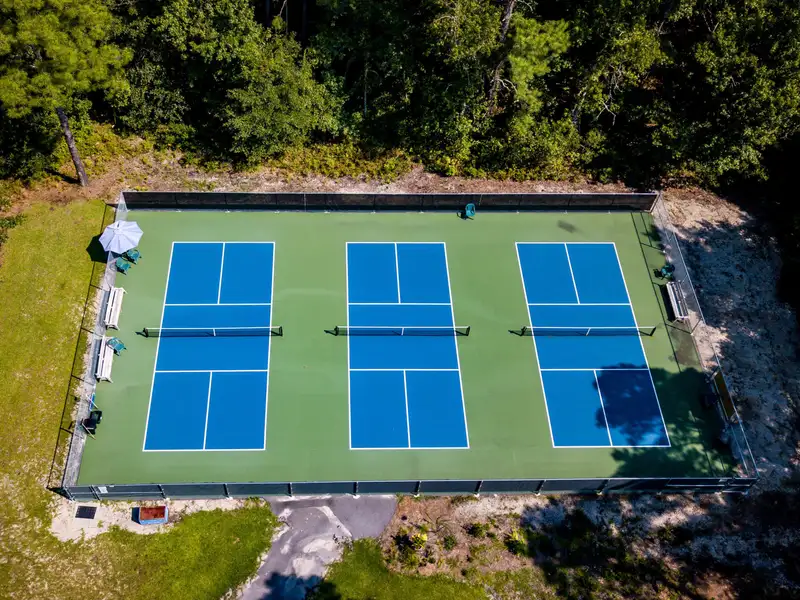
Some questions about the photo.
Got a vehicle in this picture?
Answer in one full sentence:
No, the scene contains no vehicle.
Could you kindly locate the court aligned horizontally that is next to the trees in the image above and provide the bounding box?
[73,210,743,502]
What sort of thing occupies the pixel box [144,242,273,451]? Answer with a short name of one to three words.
sports court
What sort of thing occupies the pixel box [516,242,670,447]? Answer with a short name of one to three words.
sports court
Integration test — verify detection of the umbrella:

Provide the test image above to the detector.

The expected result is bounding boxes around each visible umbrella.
[99,222,143,262]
